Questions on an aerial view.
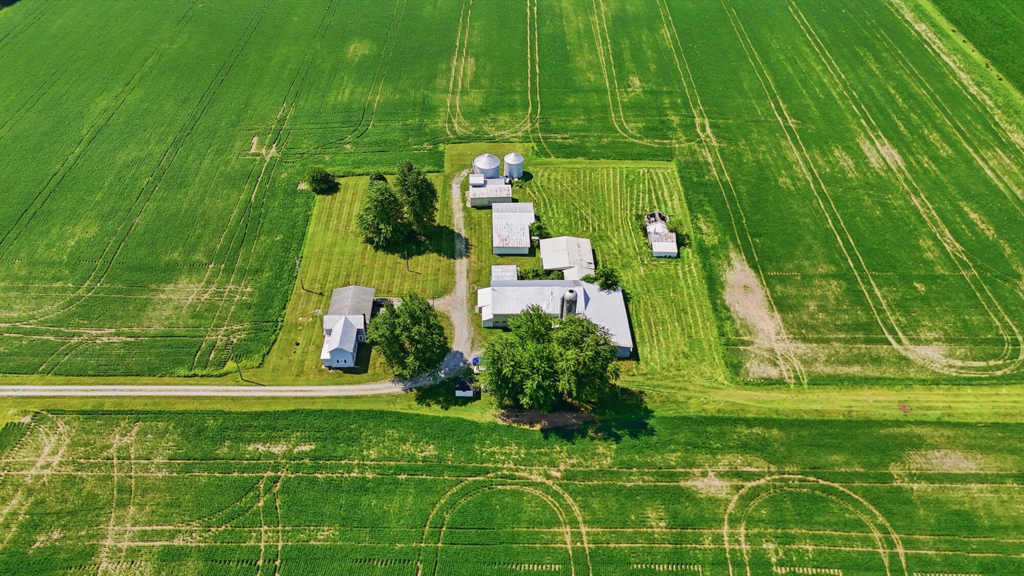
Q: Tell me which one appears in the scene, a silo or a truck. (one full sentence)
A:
The one in the frame is a silo.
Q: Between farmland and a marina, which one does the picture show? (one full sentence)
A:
This image shows farmland.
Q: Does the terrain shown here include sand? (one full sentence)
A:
No, the scene doesn't show any sand.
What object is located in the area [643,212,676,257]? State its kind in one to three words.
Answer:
shed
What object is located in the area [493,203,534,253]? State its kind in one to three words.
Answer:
shed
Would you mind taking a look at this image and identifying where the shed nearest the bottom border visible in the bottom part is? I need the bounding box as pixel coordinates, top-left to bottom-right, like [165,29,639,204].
[453,378,475,396]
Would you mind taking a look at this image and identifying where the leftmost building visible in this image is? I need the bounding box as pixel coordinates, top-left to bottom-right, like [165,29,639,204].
[320,281,376,373]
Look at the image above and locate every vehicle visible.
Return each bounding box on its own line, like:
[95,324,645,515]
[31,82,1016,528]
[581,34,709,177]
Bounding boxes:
[473,358,485,368]
[378,298,398,308]
[473,366,484,376]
